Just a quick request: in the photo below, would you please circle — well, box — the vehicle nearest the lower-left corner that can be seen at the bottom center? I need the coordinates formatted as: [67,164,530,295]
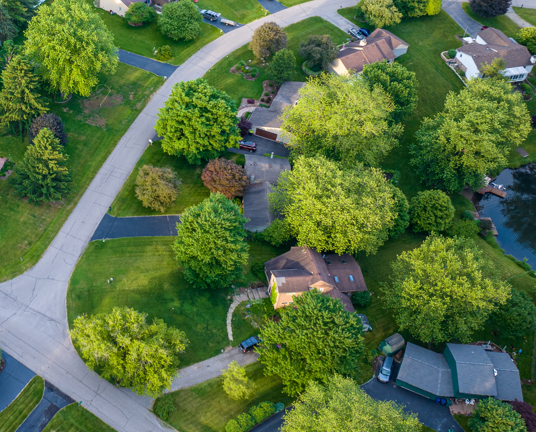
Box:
[234,333,263,354]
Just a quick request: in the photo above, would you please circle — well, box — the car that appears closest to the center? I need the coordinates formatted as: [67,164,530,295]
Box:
[237,139,260,152]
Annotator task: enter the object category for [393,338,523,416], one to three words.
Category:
house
